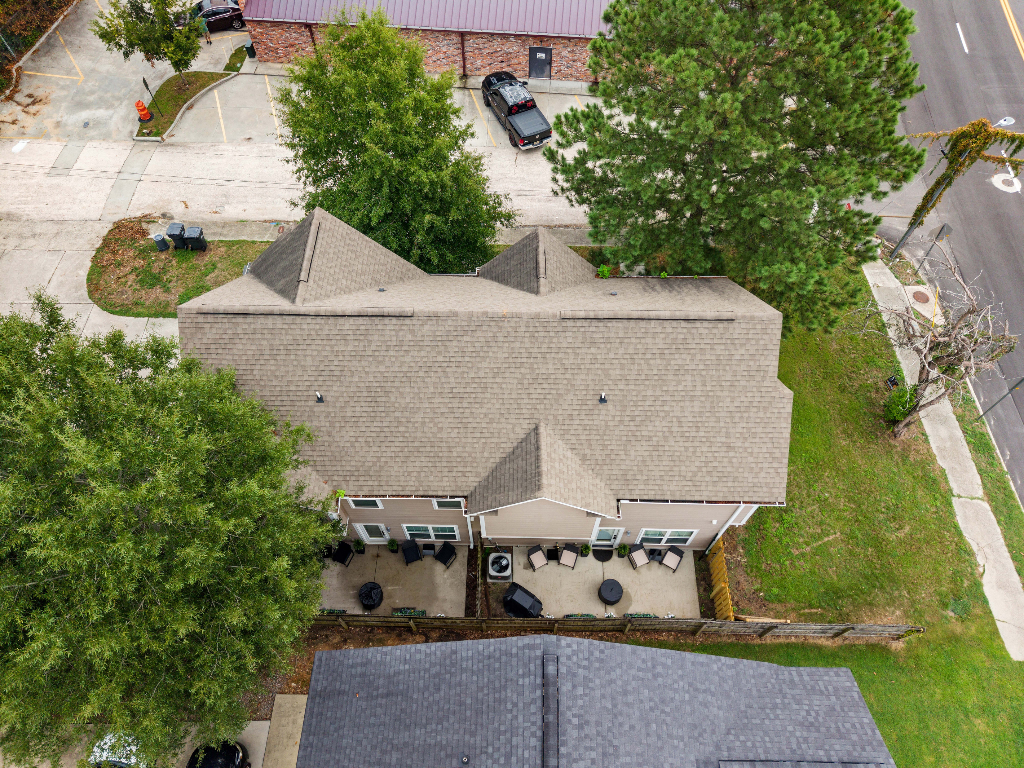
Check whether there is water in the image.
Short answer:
No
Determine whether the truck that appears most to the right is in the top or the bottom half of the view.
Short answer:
top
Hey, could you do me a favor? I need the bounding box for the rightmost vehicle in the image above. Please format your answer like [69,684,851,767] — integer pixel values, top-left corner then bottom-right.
[482,71,559,152]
